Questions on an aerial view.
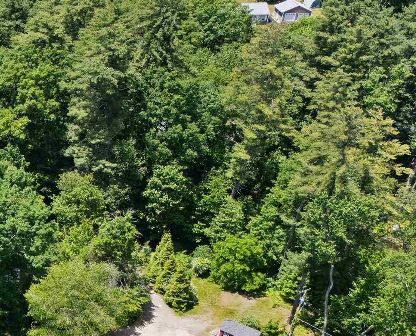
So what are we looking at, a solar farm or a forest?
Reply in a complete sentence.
The picture captures a forest.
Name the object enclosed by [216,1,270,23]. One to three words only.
house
